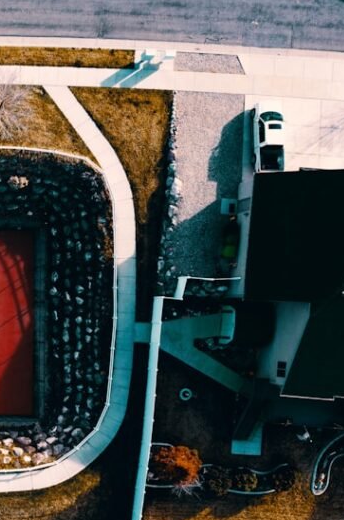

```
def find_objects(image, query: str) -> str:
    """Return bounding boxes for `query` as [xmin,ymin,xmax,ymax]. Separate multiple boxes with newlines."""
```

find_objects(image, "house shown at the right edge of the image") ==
[228,161,344,406]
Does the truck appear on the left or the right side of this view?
right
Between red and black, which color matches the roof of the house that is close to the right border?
black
